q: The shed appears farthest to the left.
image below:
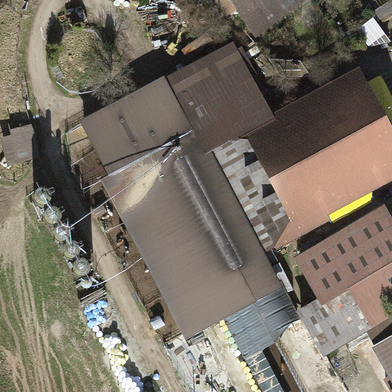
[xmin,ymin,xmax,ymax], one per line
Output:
[2,125,33,166]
